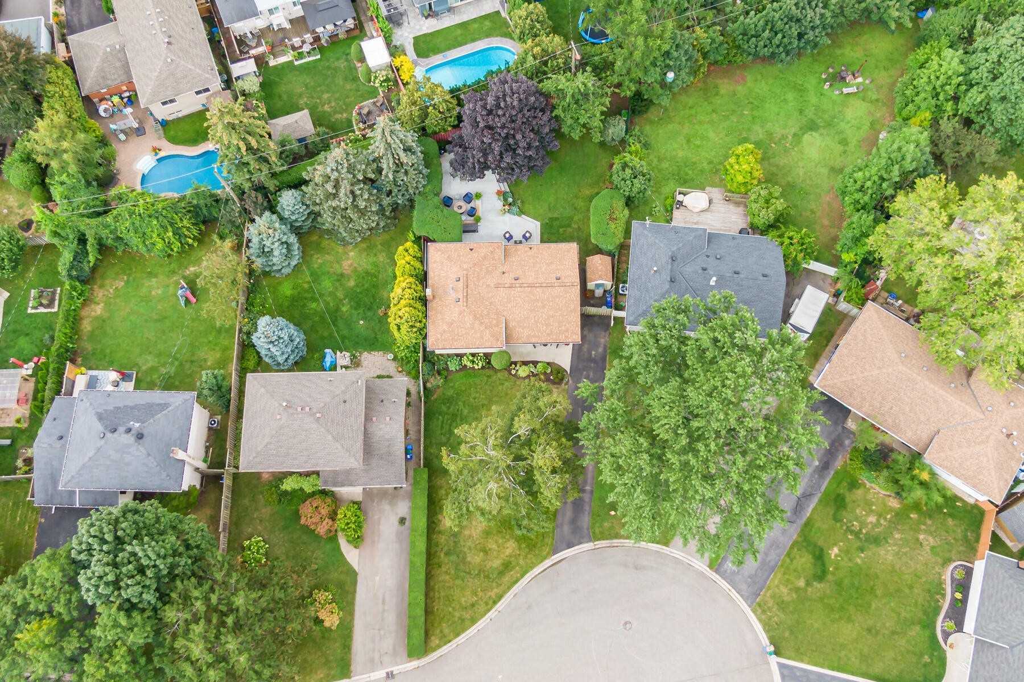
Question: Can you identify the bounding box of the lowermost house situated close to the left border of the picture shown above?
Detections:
[33,390,213,516]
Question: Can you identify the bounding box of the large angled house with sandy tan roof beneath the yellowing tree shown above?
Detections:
[811,301,1024,505]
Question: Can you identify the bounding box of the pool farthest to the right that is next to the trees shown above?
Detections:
[415,43,519,92]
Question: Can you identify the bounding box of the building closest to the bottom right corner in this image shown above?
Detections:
[955,551,1024,682]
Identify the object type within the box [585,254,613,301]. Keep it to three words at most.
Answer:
shed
